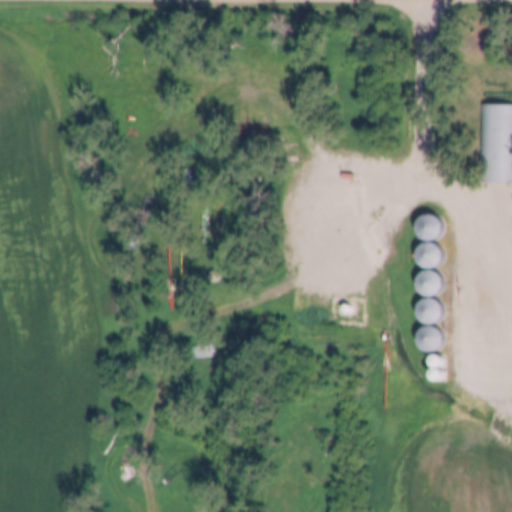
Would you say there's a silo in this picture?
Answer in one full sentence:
Yes, the picture does show a silo.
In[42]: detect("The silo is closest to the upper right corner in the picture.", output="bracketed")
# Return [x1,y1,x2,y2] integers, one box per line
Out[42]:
[416,214,448,241]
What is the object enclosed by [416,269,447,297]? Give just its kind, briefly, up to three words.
silo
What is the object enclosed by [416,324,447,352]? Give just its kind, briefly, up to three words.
silo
